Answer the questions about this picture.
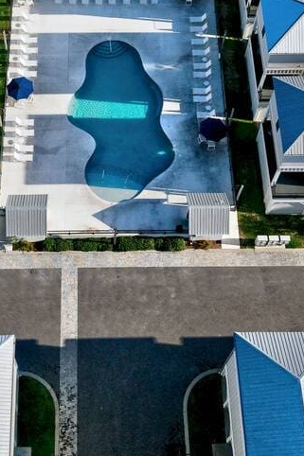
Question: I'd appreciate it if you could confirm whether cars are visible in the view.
No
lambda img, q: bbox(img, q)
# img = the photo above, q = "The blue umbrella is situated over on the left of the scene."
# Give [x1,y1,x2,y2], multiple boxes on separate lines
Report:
[7,77,32,101]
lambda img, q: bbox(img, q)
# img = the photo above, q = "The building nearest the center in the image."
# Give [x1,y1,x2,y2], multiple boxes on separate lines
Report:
[183,192,231,248]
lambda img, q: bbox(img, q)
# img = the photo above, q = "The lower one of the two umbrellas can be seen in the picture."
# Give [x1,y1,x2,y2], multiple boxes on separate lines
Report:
[199,117,226,141]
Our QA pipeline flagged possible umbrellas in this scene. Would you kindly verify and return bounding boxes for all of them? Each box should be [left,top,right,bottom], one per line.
[199,117,226,141]
[7,77,32,101]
